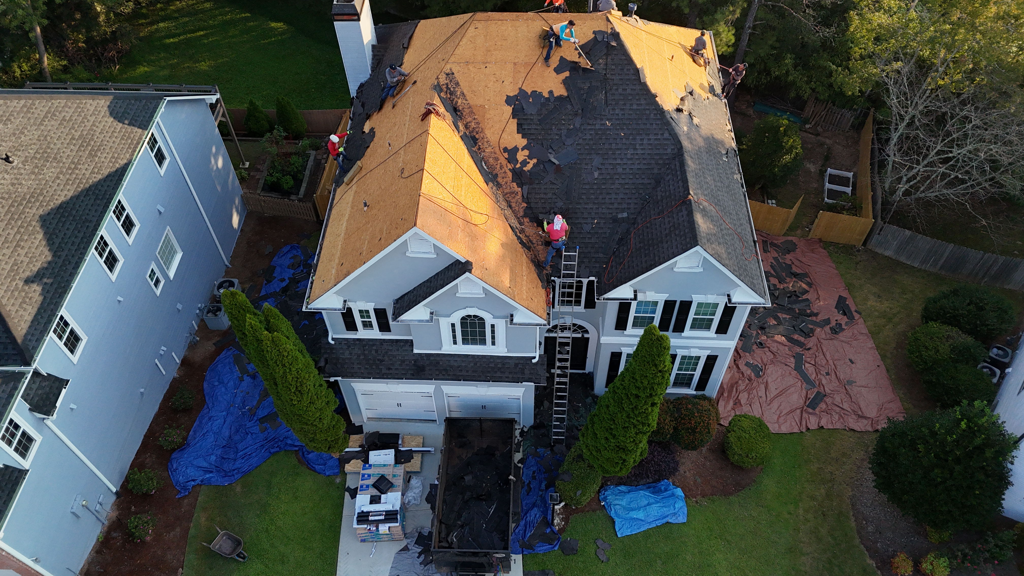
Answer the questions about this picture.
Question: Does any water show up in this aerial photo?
No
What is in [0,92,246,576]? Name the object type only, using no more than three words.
house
